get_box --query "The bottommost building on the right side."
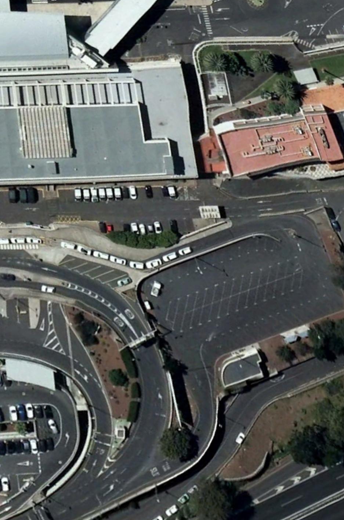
[220,343,263,387]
